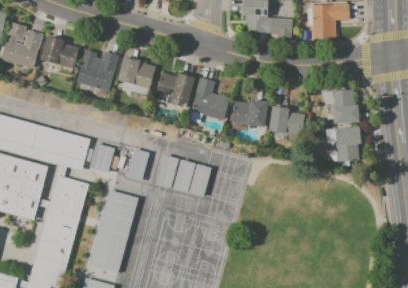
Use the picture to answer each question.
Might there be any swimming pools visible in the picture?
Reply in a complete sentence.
Yes, I can see a swimming pool in this picture.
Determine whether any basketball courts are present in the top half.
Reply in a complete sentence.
No, there's no basketball court to be seen in the top half.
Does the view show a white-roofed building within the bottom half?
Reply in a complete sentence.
Yes, looking within the bottom half, one can make out a white-roofed building.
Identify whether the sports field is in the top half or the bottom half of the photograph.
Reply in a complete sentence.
It is in the bottom half that the sports field appears.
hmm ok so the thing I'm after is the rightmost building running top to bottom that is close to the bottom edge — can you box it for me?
[87,192,138,274]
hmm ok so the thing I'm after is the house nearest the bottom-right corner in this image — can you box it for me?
[328,127,360,161]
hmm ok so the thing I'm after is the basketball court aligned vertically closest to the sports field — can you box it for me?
[188,220,229,288]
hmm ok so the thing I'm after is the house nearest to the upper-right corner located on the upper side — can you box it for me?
[312,4,350,38]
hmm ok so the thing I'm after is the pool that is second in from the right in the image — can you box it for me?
[191,112,226,136]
